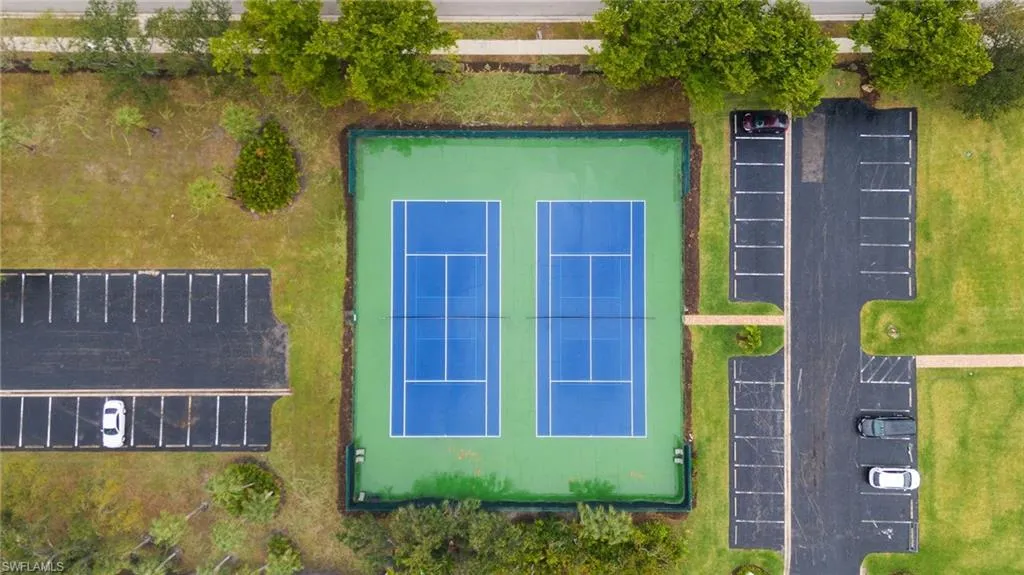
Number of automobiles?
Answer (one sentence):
The picture shows 4 automobiles.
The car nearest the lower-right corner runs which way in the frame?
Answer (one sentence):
In this picture, the car nearest the lower-right corner lies horizontally.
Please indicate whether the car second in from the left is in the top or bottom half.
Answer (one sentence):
The top half of the photo is where the car second in from the left is.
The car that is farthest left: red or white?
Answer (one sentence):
In this view, the car that is farthest left is white.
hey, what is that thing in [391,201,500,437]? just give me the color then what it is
blue tennis court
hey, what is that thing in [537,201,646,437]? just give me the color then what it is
blue tennis court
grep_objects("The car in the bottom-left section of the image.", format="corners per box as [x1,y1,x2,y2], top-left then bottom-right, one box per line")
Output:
[102,399,128,448]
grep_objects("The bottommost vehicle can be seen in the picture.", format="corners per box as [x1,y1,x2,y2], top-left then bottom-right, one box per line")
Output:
[868,467,920,491]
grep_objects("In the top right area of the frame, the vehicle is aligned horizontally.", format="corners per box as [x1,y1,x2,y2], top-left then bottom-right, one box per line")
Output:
[743,111,789,132]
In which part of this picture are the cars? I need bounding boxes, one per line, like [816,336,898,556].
[868,467,920,491]
[856,414,915,438]
[743,111,789,132]
[102,399,128,448]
